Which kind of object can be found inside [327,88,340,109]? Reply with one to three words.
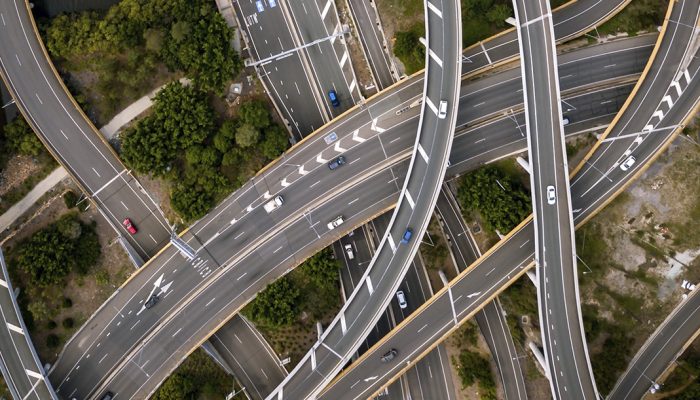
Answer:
vehicle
